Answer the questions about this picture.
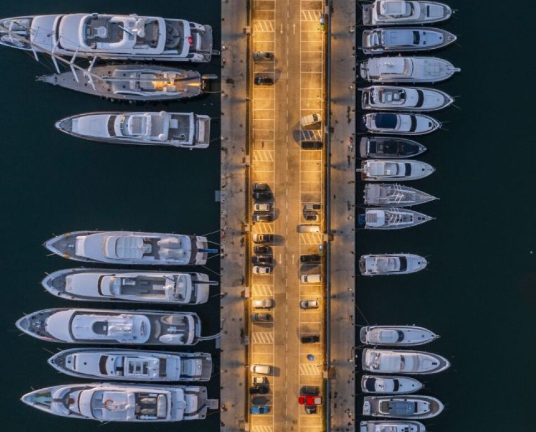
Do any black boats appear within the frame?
Yes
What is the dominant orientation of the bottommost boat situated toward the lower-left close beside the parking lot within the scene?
from left to right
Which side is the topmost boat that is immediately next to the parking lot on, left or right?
right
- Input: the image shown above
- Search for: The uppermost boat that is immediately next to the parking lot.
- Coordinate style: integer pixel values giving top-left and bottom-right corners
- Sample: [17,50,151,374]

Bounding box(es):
[361,0,459,27]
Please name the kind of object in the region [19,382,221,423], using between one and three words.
boat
